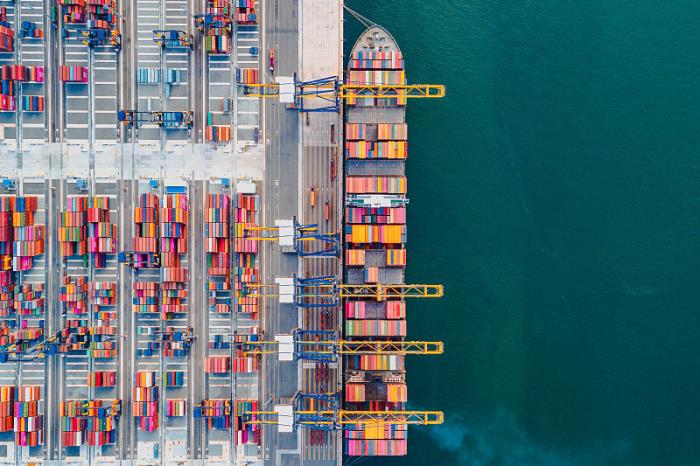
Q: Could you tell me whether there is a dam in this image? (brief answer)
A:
No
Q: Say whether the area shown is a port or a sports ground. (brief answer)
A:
port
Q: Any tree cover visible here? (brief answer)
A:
No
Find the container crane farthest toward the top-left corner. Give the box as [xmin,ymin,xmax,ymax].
[77,27,123,50]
